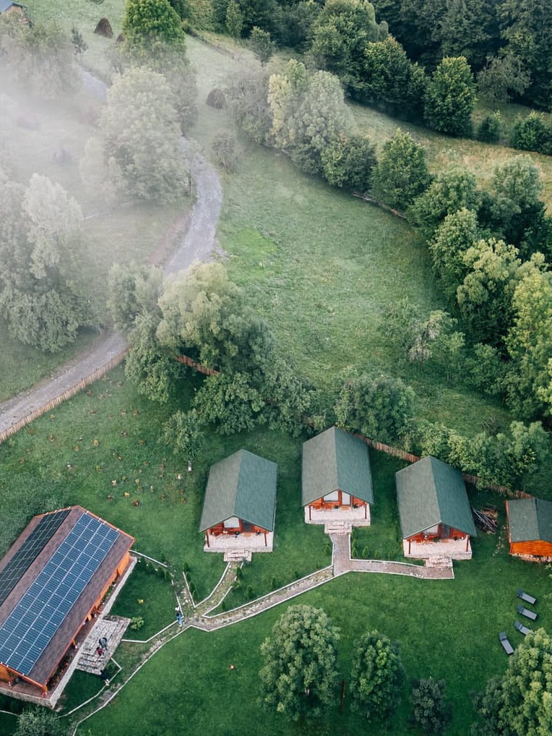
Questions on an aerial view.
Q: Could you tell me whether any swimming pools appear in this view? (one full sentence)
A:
No, the photo shows no swimming pool.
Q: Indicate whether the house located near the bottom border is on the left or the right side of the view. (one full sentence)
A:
The house located near the bottom border appears in the left half of the scene.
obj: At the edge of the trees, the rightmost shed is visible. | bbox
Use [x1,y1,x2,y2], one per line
[506,497,552,558]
